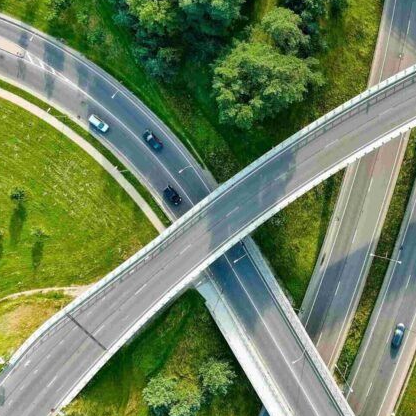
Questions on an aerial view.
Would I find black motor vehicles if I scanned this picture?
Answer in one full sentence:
Yes, there is a black motor vehicle in the image.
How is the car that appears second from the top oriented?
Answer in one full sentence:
The car that appears second from the top is laid out diagonally.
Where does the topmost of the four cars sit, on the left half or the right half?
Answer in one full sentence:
It is on the left.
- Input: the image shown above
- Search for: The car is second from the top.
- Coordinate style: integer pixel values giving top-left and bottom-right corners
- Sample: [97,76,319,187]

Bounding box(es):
[142,129,165,152]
